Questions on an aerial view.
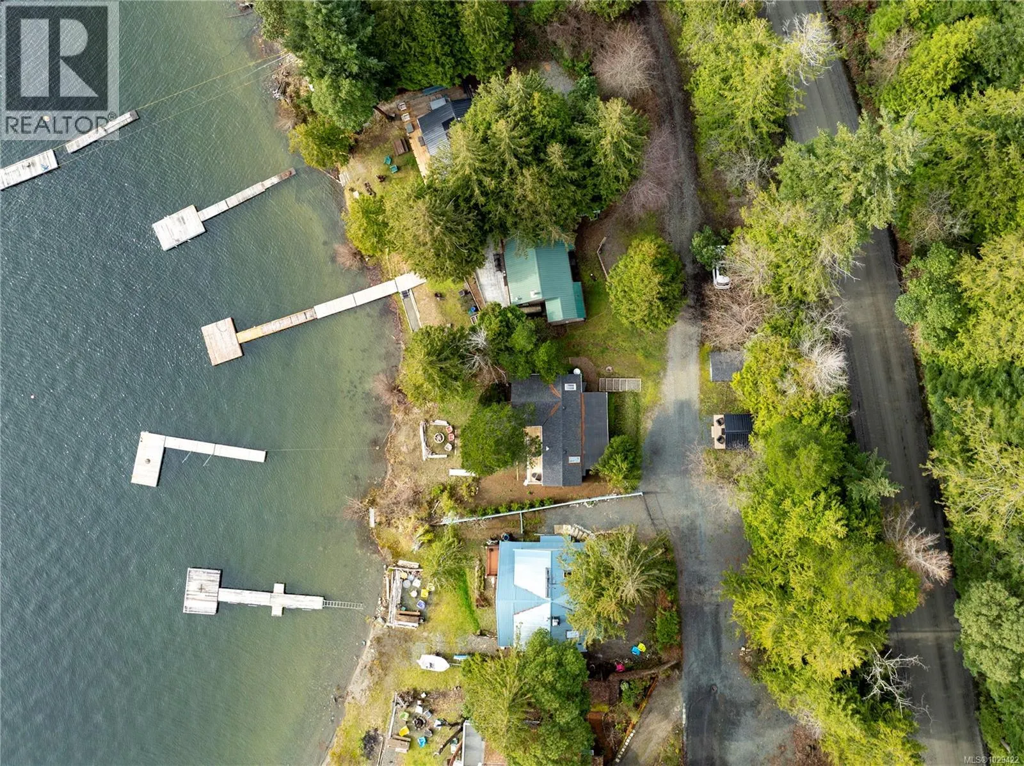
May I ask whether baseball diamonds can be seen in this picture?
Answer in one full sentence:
No, no baseball diamond can be seen from above.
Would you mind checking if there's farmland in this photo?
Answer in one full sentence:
No, no farmland is visible.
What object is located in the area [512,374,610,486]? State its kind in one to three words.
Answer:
house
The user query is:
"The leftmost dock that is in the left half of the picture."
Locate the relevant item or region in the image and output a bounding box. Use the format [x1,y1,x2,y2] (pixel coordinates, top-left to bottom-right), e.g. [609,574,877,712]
[0,149,59,190]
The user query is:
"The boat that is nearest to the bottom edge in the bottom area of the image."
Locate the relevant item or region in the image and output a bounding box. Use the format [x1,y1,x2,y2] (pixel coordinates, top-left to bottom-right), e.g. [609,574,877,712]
[414,655,459,674]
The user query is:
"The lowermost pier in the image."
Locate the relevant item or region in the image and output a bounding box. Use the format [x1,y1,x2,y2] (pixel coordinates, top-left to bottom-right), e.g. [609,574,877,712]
[184,568,324,617]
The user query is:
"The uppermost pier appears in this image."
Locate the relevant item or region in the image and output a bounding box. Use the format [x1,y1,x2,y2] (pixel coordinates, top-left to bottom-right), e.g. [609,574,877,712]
[66,110,140,153]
